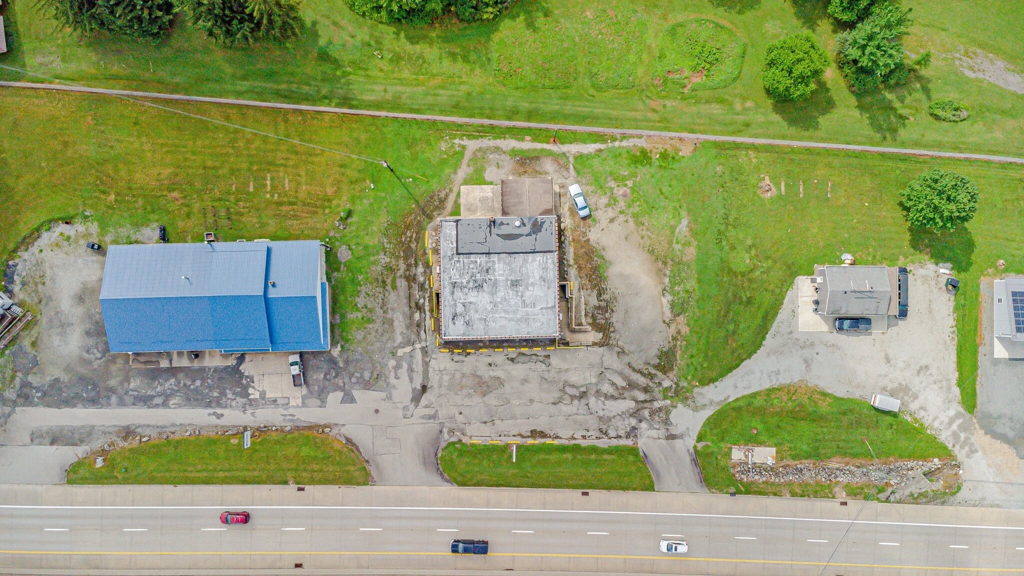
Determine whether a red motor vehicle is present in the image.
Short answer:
Yes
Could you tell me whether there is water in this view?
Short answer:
No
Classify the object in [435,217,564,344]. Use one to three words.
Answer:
building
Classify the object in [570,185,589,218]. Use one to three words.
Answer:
car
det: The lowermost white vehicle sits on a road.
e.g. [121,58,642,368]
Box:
[659,538,688,555]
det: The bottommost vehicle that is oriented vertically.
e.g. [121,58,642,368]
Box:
[287,353,306,389]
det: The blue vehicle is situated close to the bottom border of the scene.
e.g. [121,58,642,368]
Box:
[450,538,489,555]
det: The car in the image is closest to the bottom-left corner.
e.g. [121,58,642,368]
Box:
[220,509,250,525]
